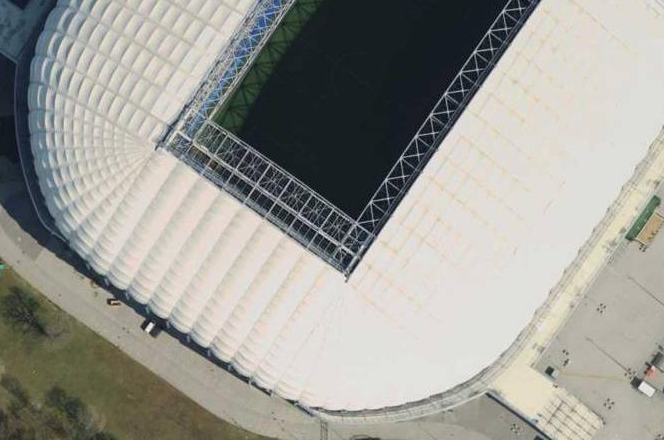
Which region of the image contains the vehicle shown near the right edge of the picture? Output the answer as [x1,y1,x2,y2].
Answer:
[639,381,657,397]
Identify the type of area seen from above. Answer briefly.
sports ground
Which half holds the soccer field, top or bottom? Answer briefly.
top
